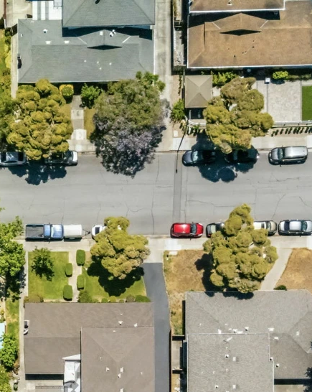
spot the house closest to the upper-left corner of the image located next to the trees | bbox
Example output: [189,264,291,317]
[16,0,155,87]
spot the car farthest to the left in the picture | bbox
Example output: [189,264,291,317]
[0,150,26,167]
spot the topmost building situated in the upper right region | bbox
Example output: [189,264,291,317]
[186,0,312,73]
